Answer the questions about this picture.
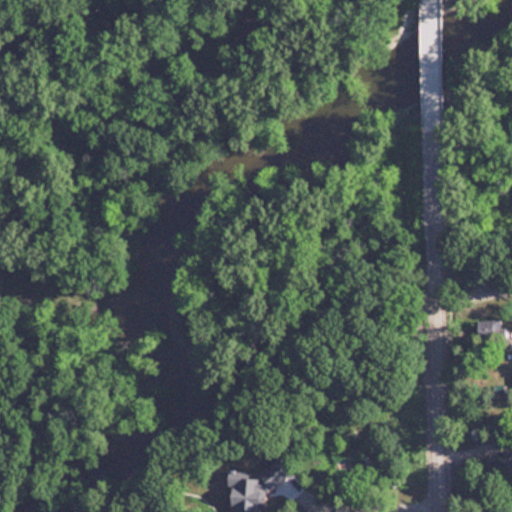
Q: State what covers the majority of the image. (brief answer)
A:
trees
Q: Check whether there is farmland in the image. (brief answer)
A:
No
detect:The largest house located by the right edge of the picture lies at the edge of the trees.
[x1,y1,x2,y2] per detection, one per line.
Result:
[478,320,503,334]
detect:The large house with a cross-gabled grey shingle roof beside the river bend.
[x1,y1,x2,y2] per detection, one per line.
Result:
[228,471,270,512]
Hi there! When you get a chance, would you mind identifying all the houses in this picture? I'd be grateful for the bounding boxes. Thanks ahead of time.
[228,471,270,512]
[478,320,503,334]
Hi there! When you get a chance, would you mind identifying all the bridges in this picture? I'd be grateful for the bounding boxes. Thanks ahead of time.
[419,0,444,131]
